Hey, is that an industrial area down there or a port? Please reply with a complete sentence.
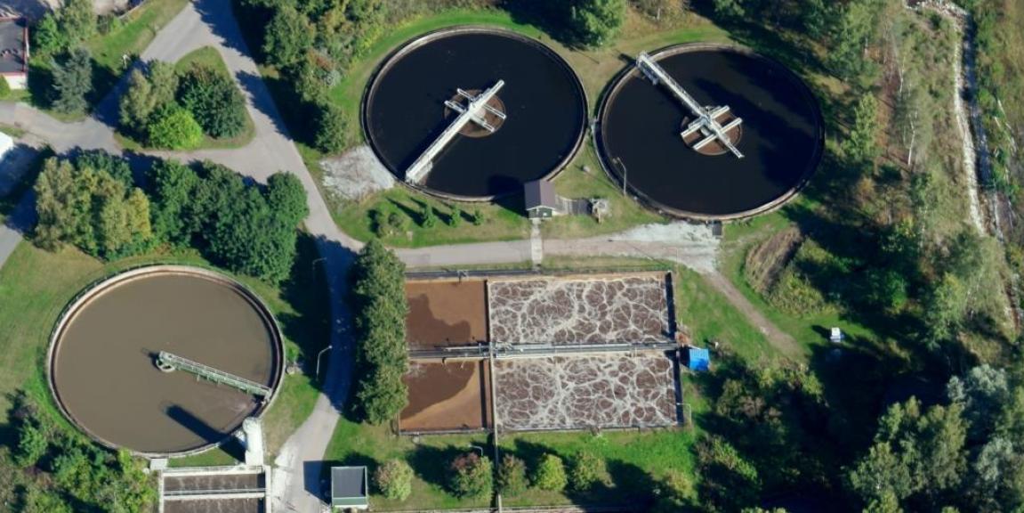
It's an industrial area.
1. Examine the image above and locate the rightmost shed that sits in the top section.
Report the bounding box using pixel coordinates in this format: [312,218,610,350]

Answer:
[524,172,556,225]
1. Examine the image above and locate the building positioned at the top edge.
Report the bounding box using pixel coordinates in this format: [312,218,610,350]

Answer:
[0,16,33,89]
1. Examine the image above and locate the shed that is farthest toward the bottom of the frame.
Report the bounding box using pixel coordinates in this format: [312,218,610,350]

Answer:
[330,468,367,513]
